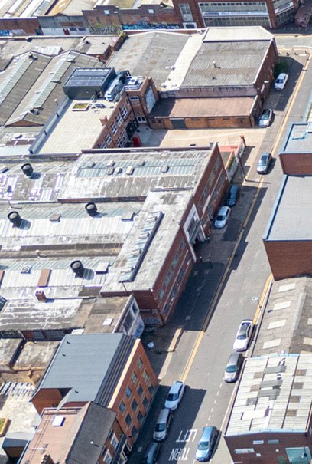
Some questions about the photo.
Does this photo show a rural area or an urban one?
urban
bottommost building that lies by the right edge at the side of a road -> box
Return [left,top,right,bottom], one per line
[225,350,312,458]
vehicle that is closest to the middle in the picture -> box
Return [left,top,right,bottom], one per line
[213,206,231,228]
